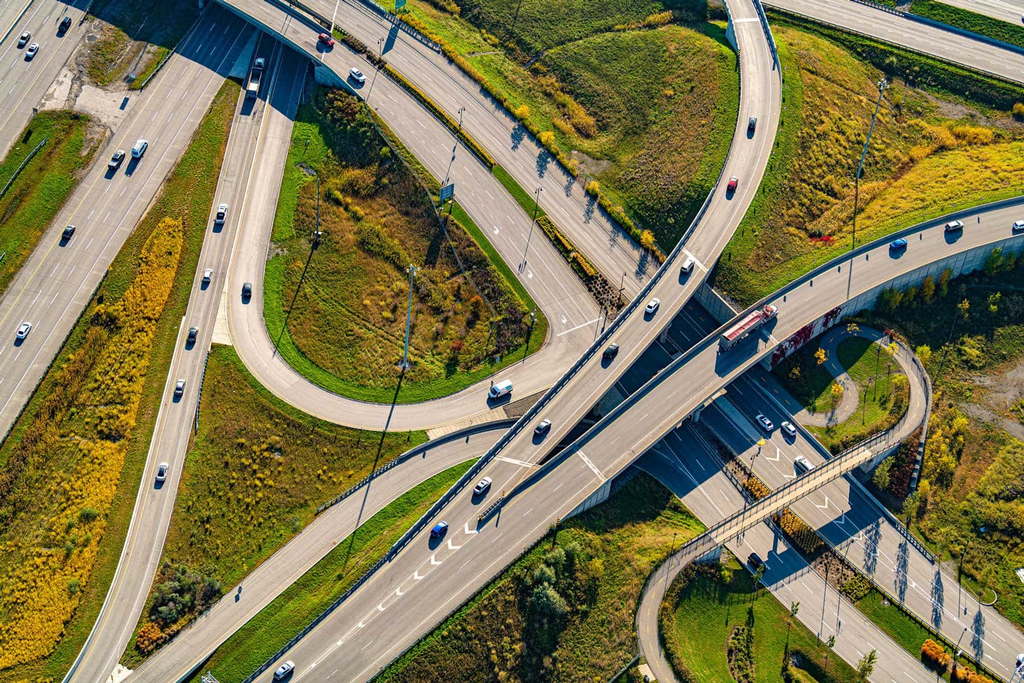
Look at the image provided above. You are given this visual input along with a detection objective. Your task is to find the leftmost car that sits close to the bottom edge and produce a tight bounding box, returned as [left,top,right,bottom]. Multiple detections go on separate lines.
[272,661,295,681]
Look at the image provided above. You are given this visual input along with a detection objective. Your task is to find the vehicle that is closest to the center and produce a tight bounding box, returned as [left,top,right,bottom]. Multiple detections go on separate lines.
[488,380,514,401]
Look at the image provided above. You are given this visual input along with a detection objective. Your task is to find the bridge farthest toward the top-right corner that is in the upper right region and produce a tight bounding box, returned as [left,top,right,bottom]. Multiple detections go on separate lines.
[721,0,768,26]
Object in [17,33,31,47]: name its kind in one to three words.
car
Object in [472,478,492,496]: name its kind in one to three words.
car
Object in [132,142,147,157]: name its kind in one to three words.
vehicle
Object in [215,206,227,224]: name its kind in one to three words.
vehicle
